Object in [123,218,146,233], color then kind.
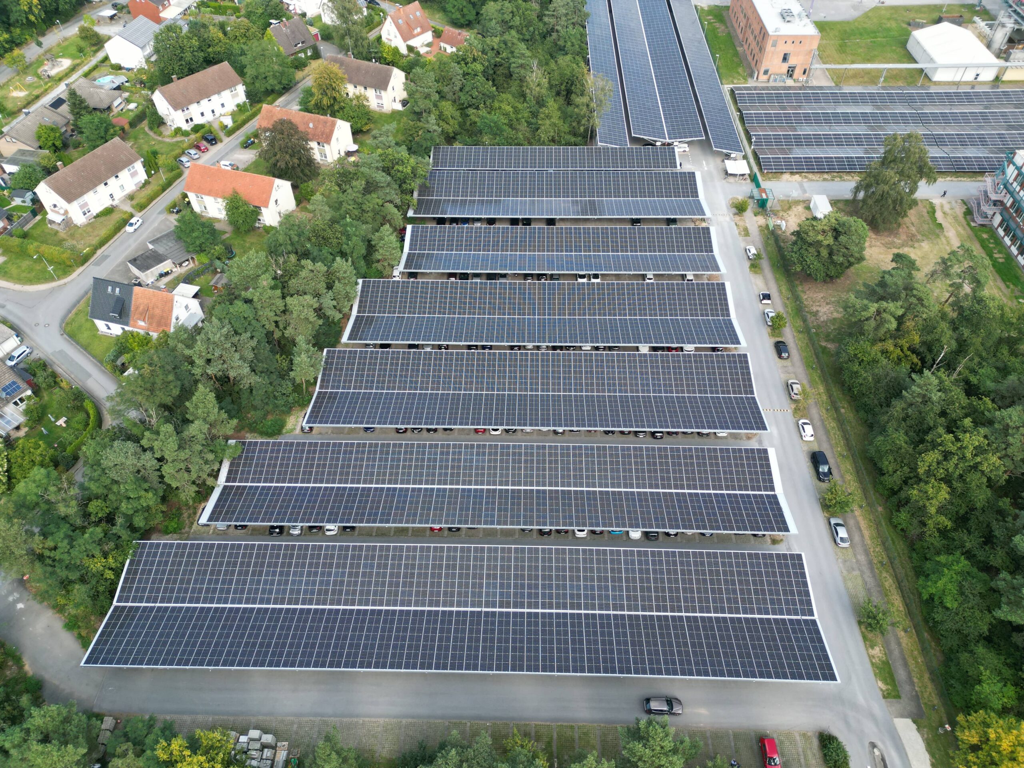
white car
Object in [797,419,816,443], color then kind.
white car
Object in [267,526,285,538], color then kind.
black vehicle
